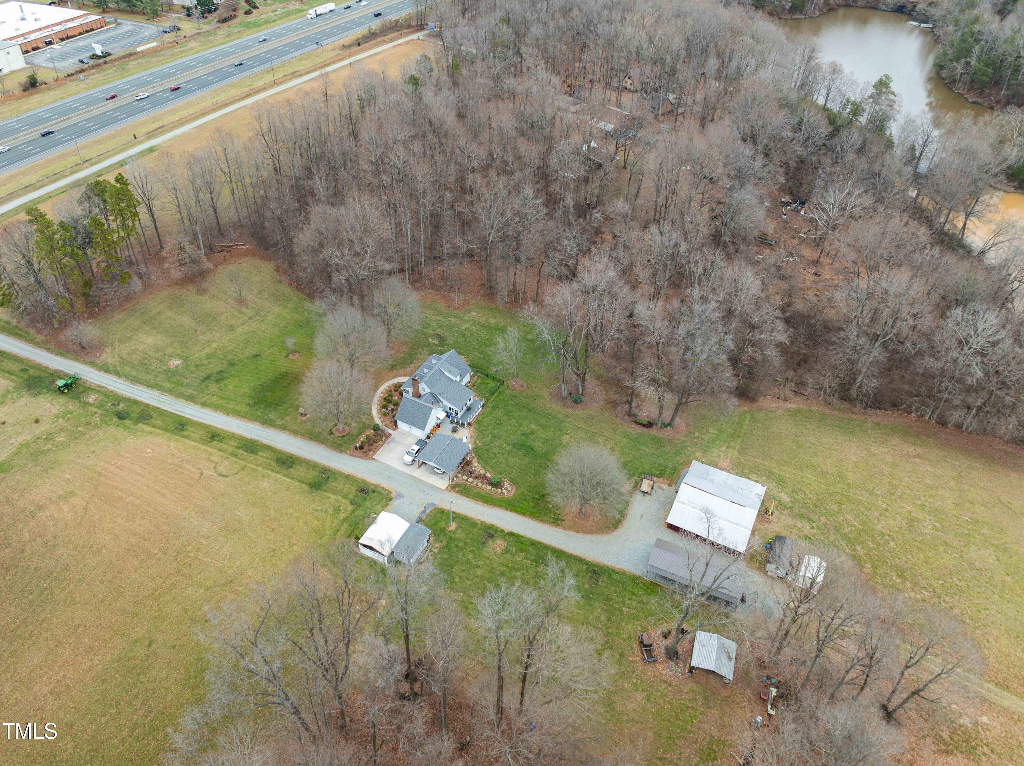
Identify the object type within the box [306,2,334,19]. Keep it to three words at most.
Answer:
vehicle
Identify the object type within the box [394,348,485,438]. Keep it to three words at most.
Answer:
house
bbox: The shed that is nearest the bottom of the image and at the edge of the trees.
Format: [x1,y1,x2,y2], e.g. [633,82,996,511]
[690,631,738,687]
